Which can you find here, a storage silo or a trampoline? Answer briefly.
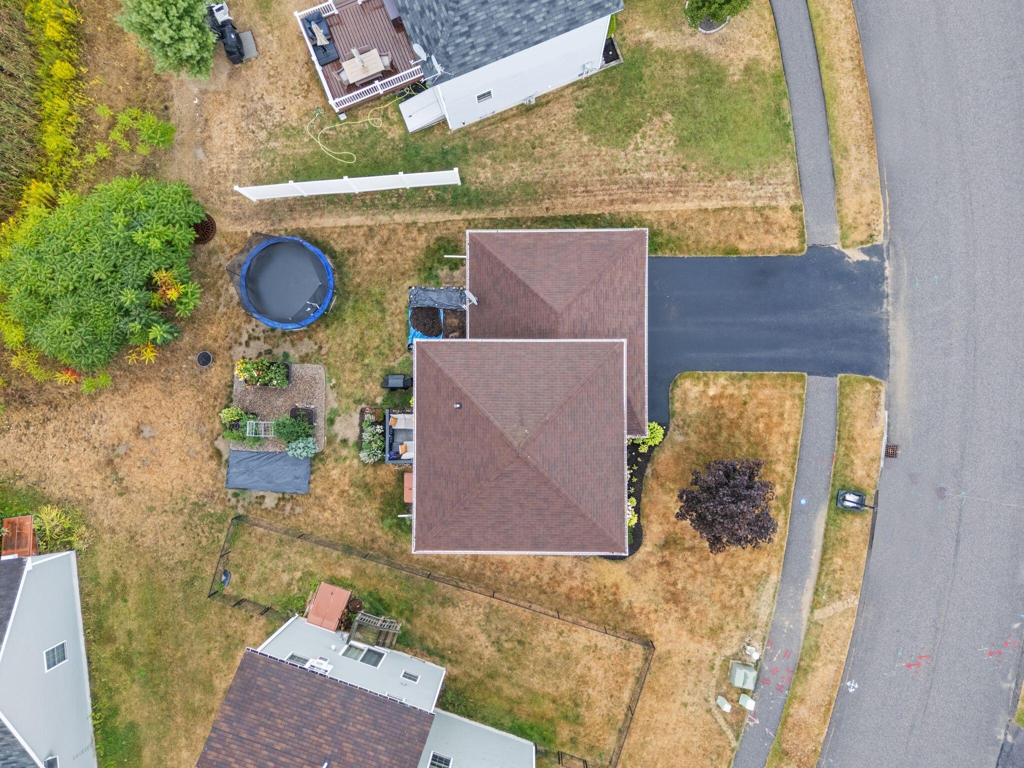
trampoline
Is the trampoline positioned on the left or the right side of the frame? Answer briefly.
left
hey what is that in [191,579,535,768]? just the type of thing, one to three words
house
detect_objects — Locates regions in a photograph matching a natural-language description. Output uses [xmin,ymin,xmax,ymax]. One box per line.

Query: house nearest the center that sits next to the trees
[398,229,649,555]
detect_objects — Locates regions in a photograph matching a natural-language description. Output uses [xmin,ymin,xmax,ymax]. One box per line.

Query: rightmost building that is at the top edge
[394,0,624,134]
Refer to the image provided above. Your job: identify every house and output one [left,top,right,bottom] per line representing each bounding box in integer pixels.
[191,579,535,768]
[398,229,649,555]
[0,516,97,768]
[394,0,624,134]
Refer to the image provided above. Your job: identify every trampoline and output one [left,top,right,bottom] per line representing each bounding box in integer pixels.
[224,231,341,333]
